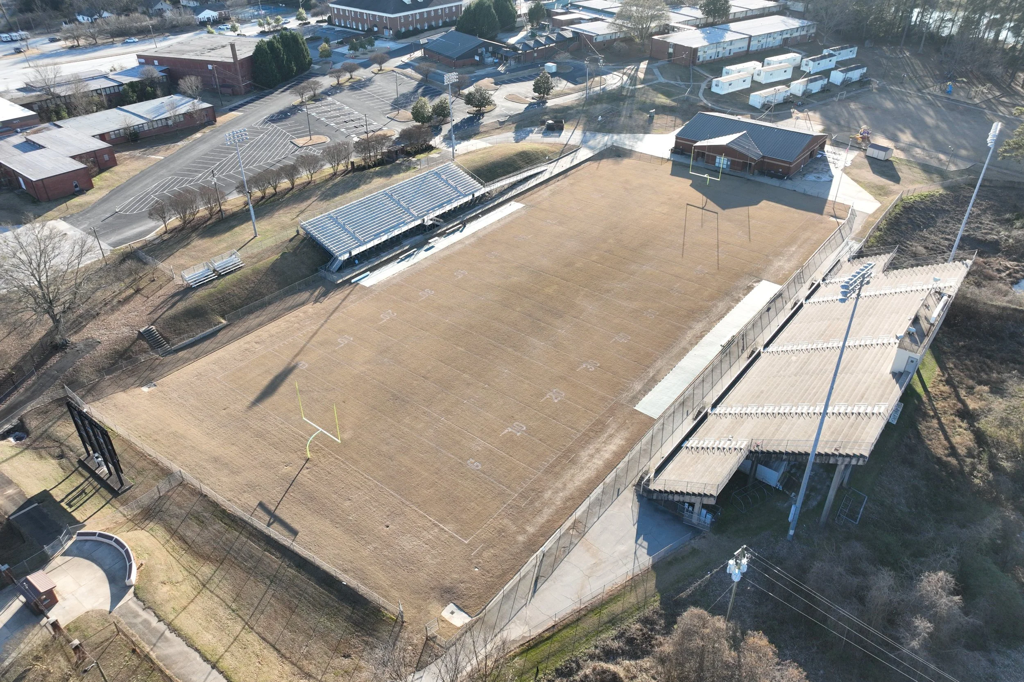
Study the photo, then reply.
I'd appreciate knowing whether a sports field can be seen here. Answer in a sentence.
Yes, the frame does contain a sports field.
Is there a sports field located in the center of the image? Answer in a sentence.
Yes, a sports field appears in the center of the image.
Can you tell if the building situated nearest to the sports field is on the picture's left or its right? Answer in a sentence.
The building situated nearest to the sports field is on the right side of the image.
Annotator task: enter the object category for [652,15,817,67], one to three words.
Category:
building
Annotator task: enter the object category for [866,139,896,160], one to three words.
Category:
shed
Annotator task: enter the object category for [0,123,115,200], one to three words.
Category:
building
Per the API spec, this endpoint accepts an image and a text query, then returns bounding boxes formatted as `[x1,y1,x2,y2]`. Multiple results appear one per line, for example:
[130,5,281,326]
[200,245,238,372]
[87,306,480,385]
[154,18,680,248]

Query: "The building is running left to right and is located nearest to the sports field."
[674,108,836,175]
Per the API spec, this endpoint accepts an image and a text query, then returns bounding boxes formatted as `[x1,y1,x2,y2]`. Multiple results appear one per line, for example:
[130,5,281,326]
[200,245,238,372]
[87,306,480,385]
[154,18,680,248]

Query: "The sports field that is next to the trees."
[91,151,848,622]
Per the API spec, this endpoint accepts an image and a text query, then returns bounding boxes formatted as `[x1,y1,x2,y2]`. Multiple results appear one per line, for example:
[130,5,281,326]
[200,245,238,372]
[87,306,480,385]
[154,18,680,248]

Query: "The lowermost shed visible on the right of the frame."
[763,458,819,502]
